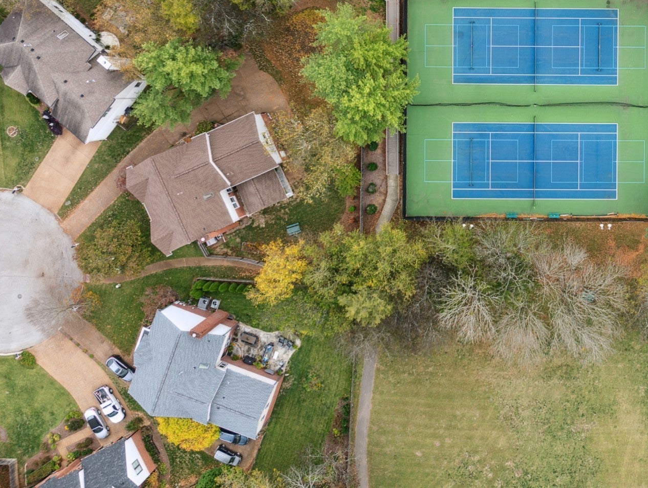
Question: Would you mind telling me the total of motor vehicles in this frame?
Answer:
5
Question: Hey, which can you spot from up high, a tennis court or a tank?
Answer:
tennis court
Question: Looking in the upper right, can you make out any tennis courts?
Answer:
Yes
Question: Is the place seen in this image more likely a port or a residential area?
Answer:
residential area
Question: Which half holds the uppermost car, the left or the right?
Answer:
left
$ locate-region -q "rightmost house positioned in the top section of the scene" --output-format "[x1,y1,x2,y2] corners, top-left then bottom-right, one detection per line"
[127,113,292,256]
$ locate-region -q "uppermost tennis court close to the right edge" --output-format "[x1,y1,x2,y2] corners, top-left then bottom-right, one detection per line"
[406,0,648,105]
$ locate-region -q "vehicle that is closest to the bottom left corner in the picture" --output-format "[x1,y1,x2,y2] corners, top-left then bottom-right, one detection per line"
[84,406,111,440]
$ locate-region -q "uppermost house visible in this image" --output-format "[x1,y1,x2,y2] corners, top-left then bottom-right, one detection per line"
[0,0,150,143]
